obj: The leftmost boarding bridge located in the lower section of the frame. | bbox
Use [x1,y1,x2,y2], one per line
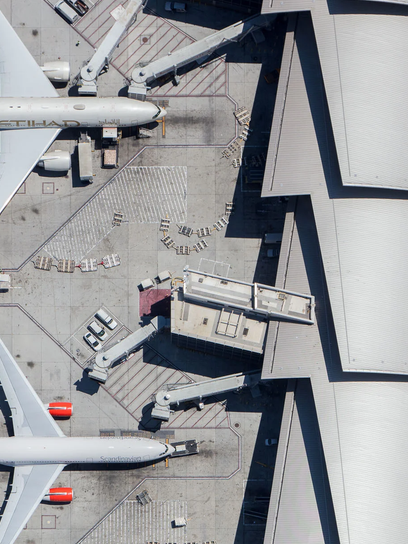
[86,313,171,386]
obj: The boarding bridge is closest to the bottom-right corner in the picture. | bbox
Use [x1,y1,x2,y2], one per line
[148,363,271,422]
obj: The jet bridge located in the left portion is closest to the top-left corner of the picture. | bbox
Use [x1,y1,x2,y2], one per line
[74,0,148,97]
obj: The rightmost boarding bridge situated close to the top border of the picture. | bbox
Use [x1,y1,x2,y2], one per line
[124,4,271,100]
